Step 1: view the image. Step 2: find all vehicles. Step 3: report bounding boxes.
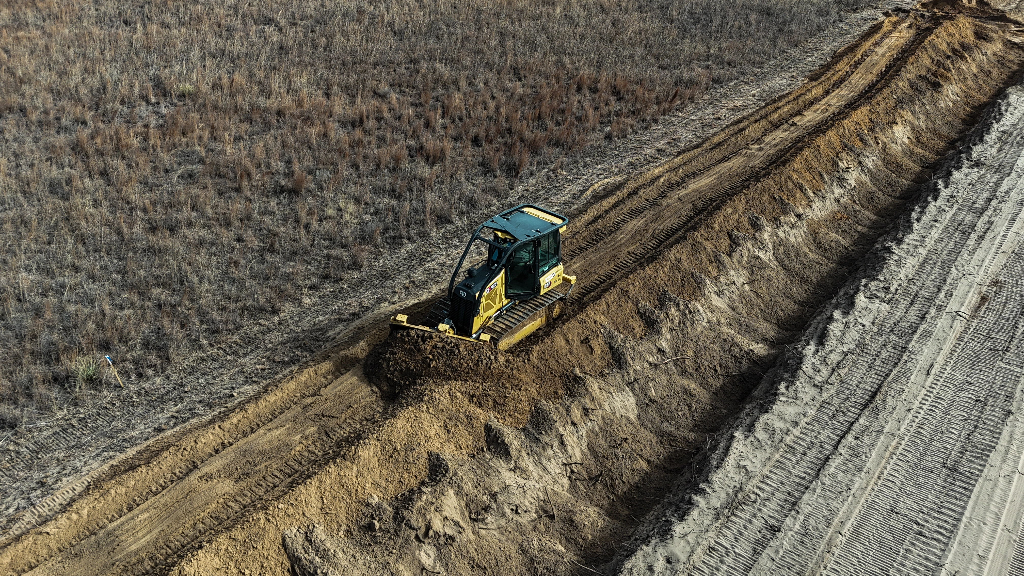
[389,201,580,353]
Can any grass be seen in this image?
Yes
